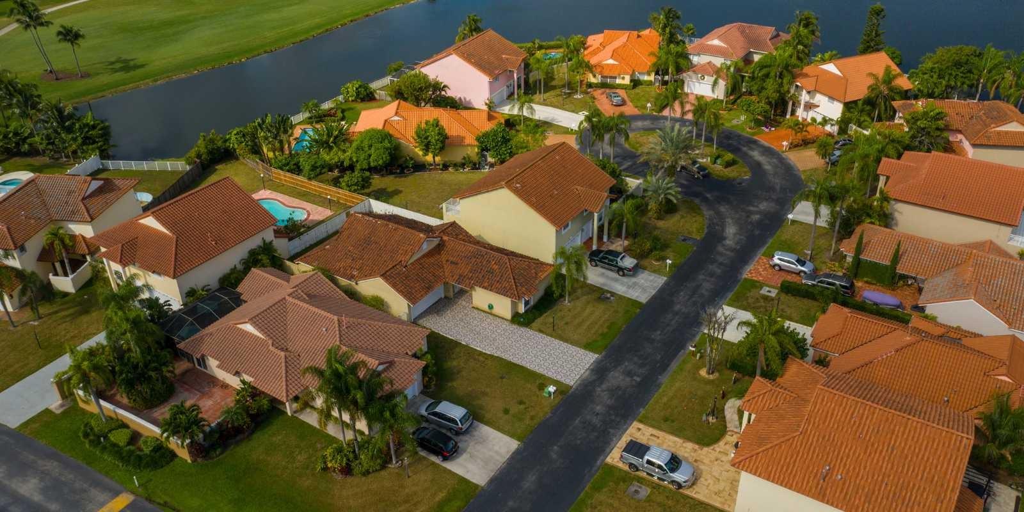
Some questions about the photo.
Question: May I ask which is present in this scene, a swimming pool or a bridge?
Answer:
swimming pool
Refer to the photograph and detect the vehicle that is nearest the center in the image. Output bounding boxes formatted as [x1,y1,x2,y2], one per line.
[586,247,640,275]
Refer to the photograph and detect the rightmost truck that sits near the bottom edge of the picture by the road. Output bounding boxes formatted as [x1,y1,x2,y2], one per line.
[620,437,699,487]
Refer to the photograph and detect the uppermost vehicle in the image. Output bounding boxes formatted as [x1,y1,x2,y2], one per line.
[605,88,625,104]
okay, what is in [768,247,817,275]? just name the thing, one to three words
car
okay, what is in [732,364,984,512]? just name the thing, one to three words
house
